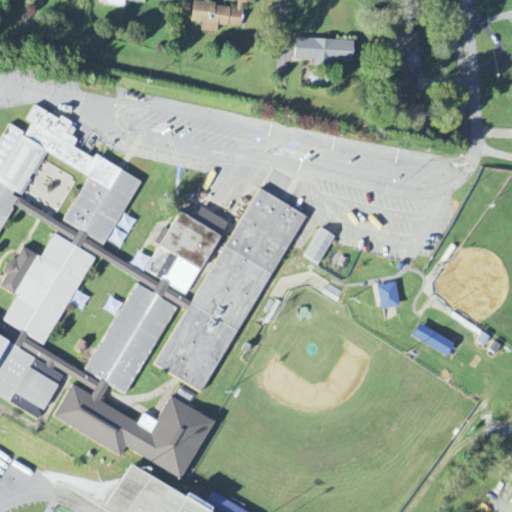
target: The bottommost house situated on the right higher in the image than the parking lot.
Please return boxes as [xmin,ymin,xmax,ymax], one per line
[294,38,354,66]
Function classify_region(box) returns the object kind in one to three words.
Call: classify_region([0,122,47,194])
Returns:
building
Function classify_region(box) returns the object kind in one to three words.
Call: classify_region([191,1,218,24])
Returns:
house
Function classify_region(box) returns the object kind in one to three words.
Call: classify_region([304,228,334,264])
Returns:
shed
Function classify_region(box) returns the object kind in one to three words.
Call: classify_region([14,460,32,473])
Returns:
vehicle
